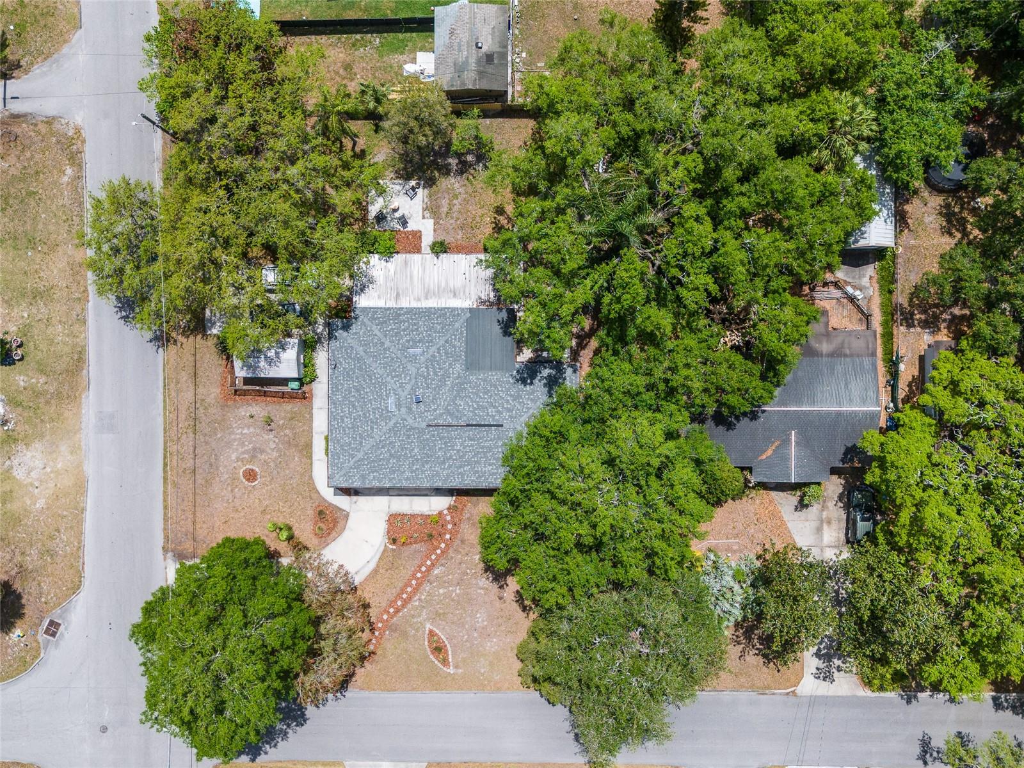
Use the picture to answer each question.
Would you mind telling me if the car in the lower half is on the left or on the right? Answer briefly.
right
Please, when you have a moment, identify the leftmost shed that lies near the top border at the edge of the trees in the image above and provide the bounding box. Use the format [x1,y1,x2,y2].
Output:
[435,0,509,119]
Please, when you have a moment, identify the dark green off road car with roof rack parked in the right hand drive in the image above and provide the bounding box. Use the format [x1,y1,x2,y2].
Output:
[845,482,877,544]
